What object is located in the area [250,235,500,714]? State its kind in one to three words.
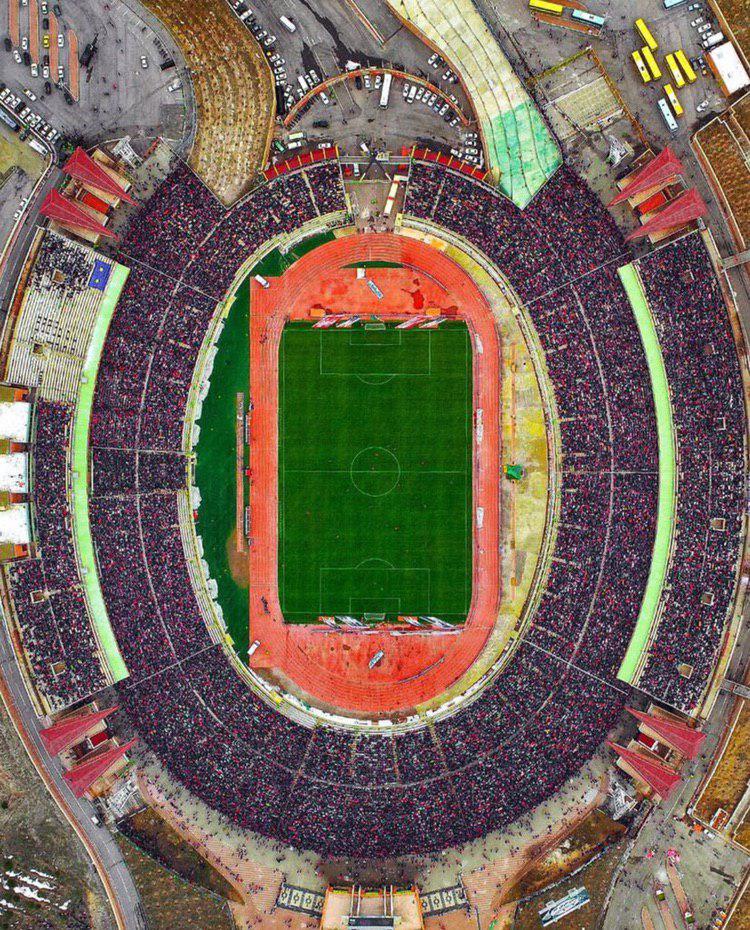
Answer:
running track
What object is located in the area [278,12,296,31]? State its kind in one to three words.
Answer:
vehicle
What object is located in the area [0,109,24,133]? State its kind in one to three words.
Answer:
bus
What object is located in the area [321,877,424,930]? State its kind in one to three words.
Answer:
building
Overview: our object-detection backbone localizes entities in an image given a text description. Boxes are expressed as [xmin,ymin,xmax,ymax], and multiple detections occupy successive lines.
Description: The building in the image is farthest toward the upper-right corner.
[702,42,750,104]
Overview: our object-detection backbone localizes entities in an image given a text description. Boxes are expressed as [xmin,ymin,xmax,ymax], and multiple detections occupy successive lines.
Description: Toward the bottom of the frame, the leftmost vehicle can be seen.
[88,812,103,828]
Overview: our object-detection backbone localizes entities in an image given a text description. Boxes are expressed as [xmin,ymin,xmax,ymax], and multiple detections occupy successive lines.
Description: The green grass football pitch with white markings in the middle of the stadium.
[281,322,472,622]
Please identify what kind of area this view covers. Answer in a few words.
sports ground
